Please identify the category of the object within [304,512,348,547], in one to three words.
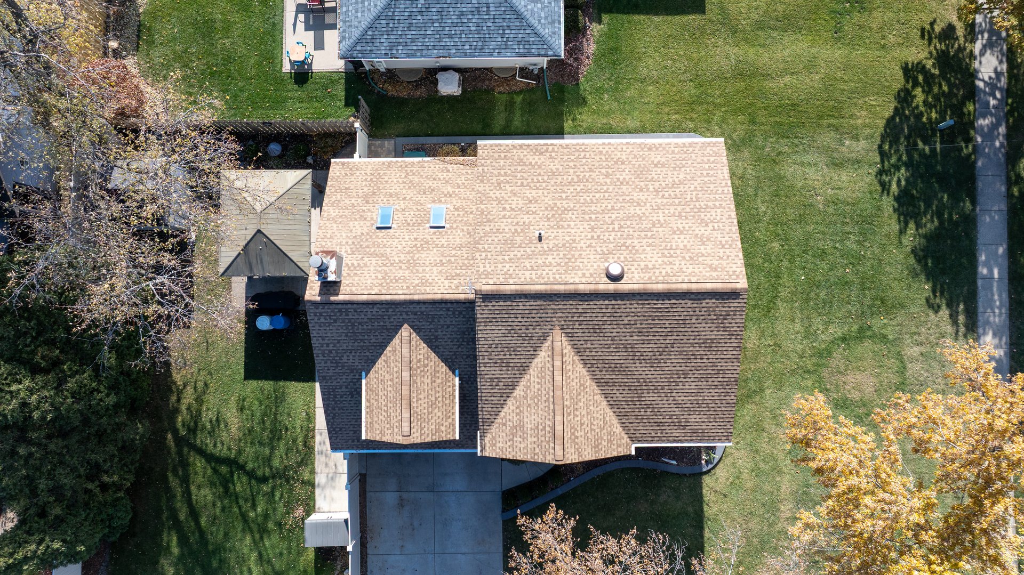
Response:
shed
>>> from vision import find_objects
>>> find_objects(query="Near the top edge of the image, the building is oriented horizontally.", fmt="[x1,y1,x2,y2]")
[335,0,565,99]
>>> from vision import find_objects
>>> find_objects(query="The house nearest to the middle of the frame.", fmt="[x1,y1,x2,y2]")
[305,136,748,465]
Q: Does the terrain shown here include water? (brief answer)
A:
No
